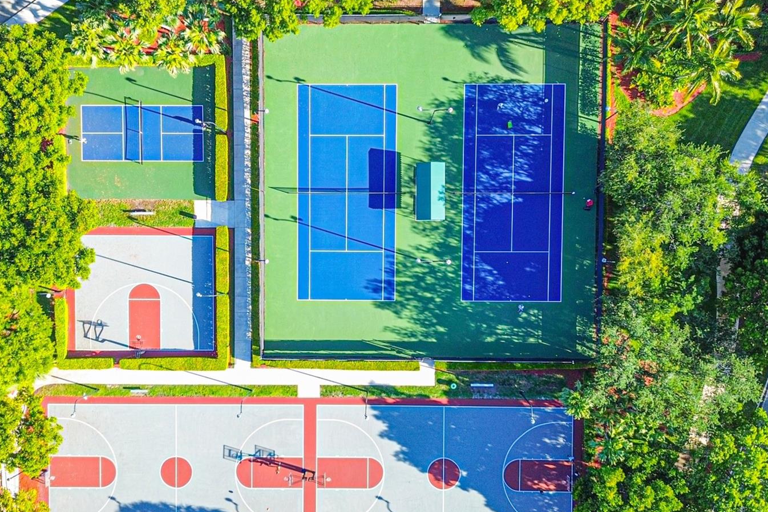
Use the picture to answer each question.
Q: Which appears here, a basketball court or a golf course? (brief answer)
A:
basketball court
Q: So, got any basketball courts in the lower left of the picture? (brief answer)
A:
Yes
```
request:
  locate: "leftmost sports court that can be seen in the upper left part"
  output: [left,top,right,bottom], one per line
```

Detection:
[65,66,217,201]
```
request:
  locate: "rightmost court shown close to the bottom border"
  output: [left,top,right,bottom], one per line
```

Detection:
[310,397,581,512]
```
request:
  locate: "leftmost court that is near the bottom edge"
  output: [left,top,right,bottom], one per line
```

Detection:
[40,395,310,512]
